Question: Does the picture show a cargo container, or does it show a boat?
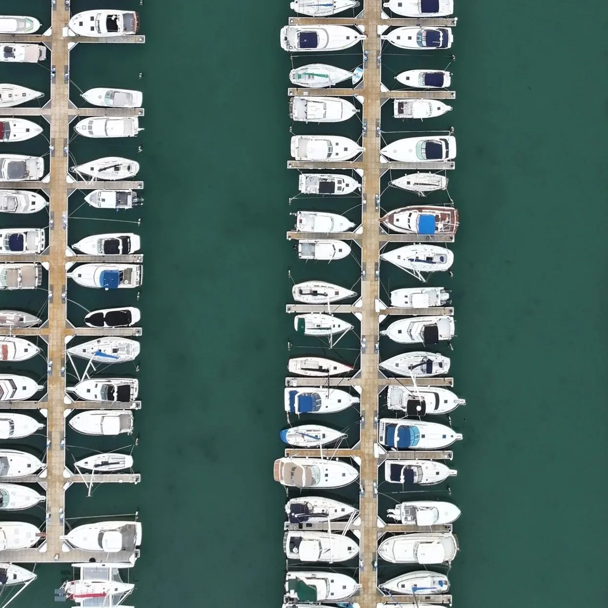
boat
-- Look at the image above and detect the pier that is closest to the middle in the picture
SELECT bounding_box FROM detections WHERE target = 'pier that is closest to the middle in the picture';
[285,293,362,324]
